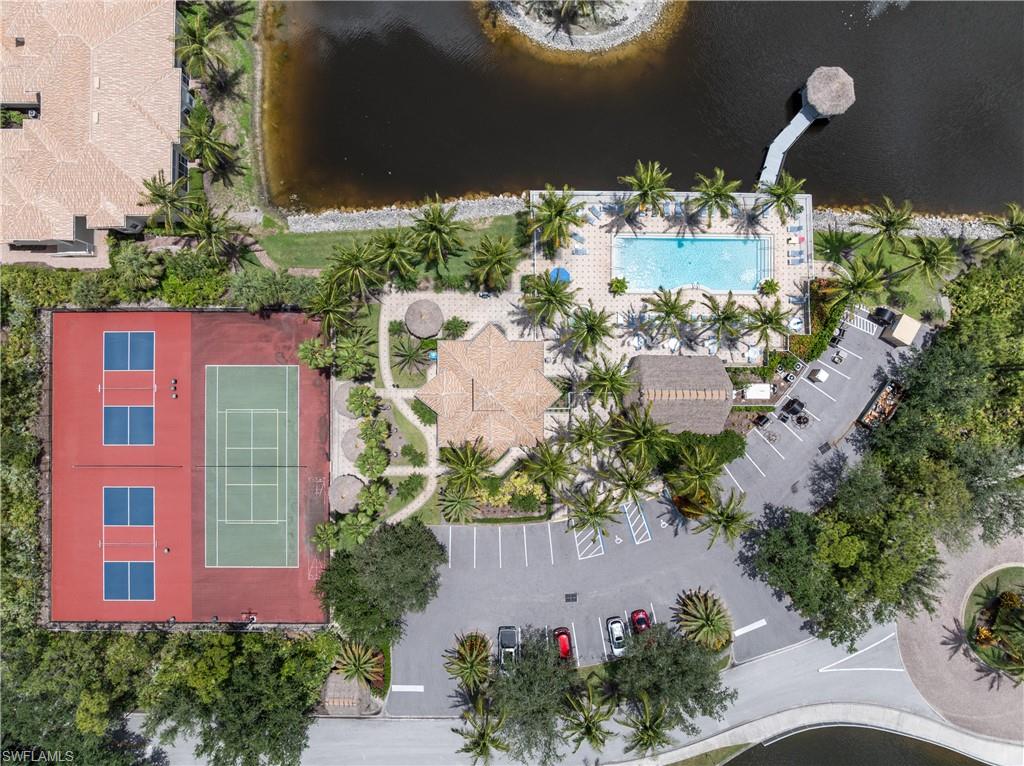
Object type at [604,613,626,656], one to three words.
car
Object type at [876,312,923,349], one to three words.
shed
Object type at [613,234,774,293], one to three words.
swimming pool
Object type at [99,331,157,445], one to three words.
sports court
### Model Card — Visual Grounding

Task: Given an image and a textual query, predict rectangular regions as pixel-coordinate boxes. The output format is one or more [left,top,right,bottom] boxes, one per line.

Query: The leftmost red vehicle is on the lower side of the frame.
[553,622,573,662]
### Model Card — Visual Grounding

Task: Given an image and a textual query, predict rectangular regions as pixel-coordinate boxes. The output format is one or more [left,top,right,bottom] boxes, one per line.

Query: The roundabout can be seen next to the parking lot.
[897,504,1024,744]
